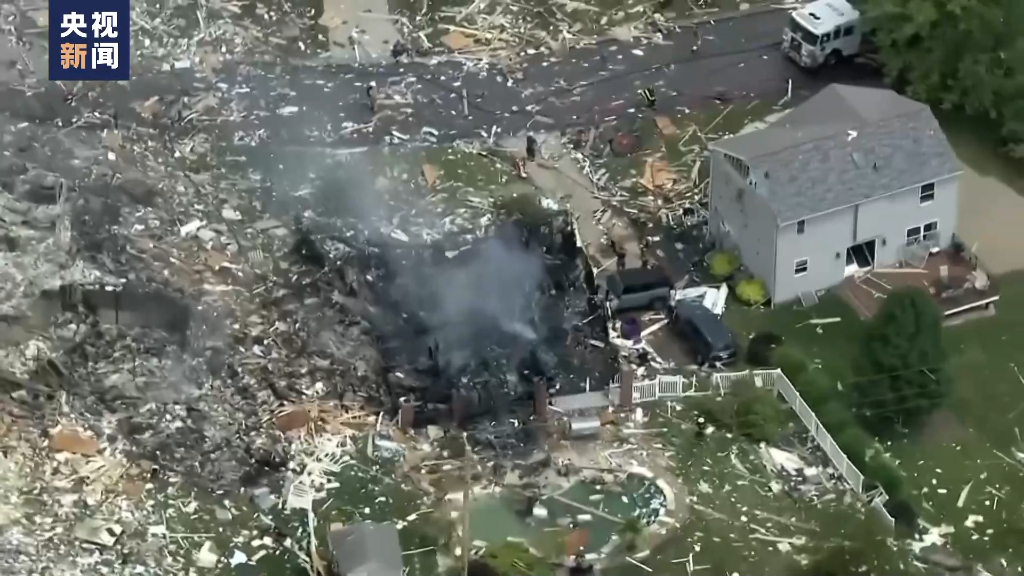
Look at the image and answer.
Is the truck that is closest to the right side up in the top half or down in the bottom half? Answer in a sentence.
Seen from above, the truck that is closest to the right side lies in the top half of the view.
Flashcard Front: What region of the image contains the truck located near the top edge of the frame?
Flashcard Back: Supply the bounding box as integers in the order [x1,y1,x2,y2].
[788,0,869,68]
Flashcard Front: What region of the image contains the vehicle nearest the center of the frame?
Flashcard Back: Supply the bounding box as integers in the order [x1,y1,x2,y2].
[595,274,677,321]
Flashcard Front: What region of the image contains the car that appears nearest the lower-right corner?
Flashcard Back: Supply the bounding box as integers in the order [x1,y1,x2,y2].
[672,289,742,362]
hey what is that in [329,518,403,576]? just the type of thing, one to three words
shed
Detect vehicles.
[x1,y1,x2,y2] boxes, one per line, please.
[788,0,869,68]
[672,289,742,362]
[595,274,677,321]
